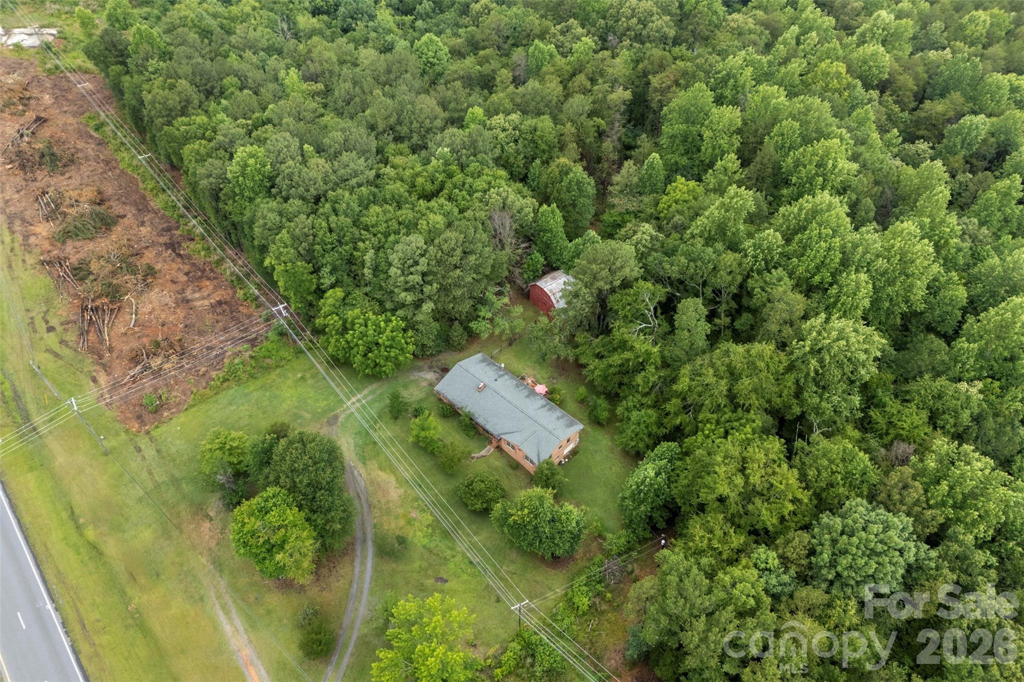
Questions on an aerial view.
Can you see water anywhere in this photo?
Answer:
No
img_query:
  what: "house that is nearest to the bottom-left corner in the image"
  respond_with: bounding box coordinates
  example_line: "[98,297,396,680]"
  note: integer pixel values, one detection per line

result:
[434,354,586,477]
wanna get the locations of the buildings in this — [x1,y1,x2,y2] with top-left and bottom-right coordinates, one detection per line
[528,267,588,322]
[434,354,586,477]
